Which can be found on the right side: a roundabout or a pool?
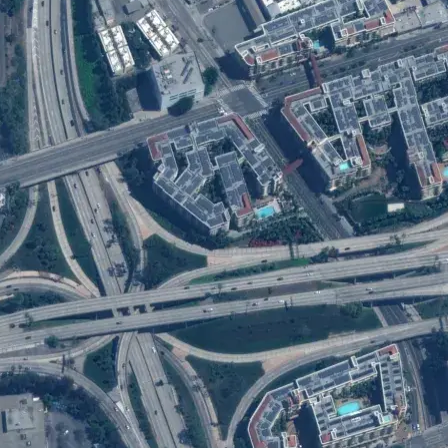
pool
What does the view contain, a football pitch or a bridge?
bridge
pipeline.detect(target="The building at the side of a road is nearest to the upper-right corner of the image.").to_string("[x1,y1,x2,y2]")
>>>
[428,0,448,26]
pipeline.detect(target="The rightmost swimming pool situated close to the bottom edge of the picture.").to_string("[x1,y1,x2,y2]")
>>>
[382,411,395,430]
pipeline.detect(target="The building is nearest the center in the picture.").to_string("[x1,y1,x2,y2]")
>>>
[146,108,282,236]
